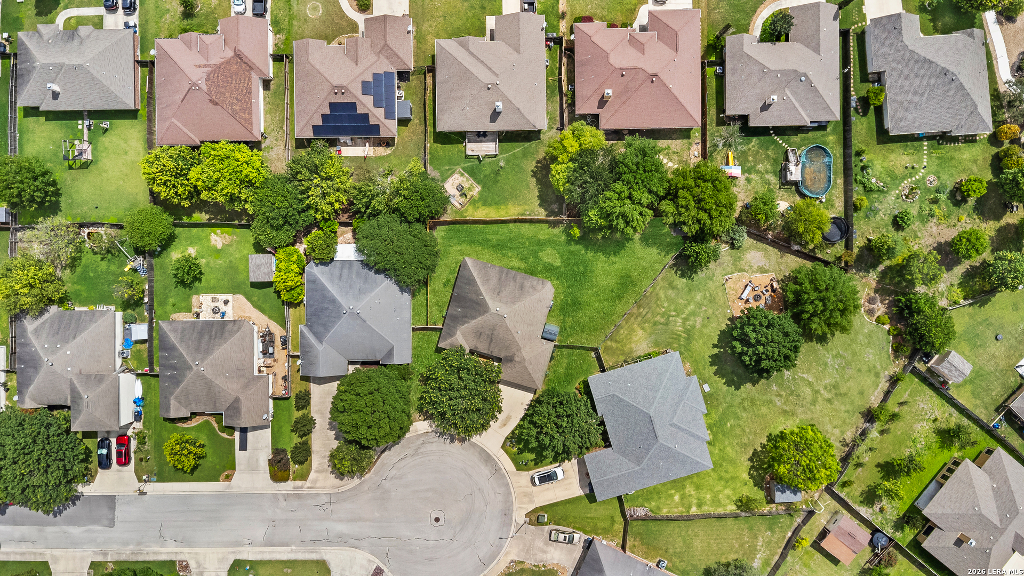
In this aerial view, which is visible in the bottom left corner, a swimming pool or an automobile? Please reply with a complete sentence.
What appears in the bottom left corner is an automobile.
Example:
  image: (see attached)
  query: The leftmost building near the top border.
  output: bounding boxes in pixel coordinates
[17,24,142,112]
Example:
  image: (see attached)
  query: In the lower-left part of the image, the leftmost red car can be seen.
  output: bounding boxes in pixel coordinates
[111,436,129,468]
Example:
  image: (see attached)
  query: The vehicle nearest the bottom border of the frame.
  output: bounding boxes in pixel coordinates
[549,529,582,547]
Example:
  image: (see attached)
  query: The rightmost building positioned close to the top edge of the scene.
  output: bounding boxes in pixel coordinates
[863,13,993,137]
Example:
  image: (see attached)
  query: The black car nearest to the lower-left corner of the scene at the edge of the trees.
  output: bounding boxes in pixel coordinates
[92,438,110,472]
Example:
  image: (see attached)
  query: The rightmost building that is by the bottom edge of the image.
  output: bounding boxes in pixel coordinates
[914,446,1024,576]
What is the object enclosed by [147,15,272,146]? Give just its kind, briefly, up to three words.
house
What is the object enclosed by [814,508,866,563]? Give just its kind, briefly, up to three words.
shed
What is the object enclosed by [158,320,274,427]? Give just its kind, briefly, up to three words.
house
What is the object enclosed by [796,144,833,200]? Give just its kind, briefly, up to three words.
swimming pool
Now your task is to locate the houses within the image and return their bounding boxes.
[723,1,840,127]
[438,257,555,389]
[295,260,412,376]
[147,15,272,146]
[293,14,413,138]
[570,536,676,576]
[158,320,274,427]
[1001,379,1024,431]
[914,446,1024,576]
[17,24,142,112]
[863,13,993,137]
[571,9,701,130]
[9,306,133,431]
[584,351,713,502]
[435,12,549,133]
